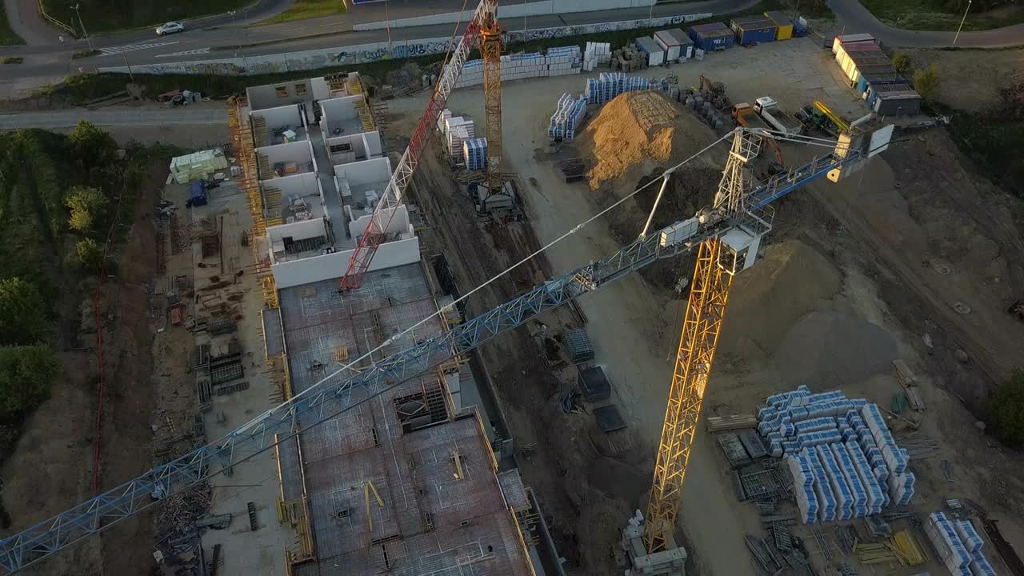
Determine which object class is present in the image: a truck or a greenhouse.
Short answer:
truck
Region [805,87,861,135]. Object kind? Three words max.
truck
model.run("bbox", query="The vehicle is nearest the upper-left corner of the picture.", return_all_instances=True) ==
[155,21,182,34]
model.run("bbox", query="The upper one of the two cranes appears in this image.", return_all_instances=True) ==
[333,0,519,293]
